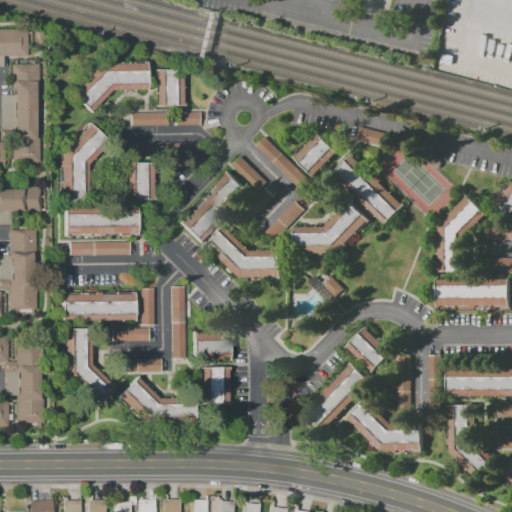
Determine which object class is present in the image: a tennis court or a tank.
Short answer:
tennis court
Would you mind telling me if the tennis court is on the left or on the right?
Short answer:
right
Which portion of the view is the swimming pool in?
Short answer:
center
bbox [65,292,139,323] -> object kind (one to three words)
building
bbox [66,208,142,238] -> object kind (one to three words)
building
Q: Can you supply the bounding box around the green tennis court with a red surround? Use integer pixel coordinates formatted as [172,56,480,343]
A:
[381,154,456,214]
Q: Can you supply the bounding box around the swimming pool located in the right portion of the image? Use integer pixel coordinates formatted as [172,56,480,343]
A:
[296,292,323,314]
